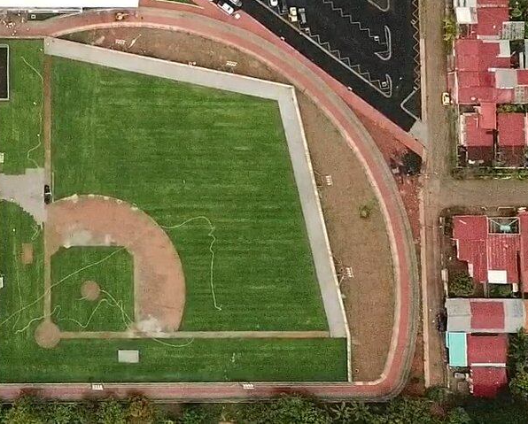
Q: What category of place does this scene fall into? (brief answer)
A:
sports ground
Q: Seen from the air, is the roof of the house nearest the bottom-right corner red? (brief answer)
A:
Yes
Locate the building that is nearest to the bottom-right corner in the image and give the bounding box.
[467,365,507,398]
